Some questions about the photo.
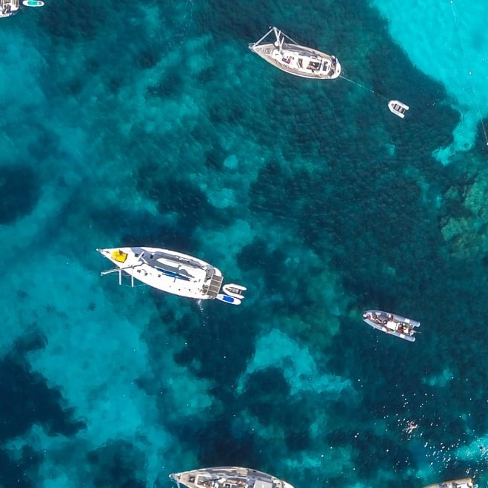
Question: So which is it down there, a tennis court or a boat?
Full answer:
There is a boat in the scene.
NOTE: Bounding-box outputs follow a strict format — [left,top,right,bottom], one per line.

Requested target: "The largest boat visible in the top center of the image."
[249,27,341,80]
